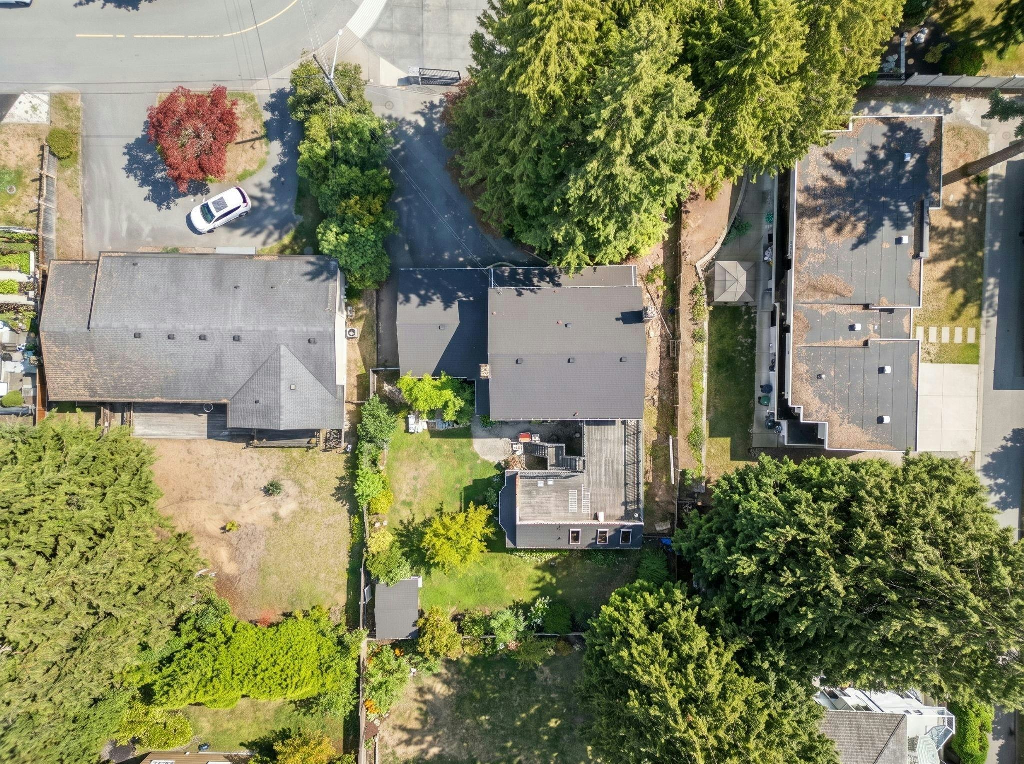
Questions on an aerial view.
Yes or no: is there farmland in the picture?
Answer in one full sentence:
No, farmland can't be seen anywhere here.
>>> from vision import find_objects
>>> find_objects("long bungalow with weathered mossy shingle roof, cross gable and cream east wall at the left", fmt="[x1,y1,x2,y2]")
[39,253,349,429]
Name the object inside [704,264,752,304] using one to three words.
gazebo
